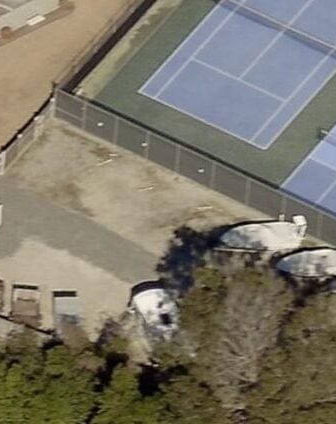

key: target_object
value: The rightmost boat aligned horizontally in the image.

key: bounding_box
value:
[275,249,336,277]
